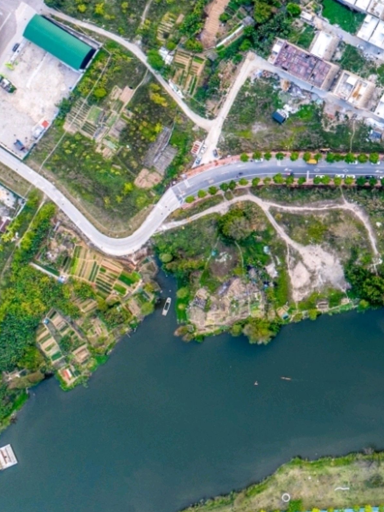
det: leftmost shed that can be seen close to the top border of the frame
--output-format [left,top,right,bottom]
[21,15,100,70]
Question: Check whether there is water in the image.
Yes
